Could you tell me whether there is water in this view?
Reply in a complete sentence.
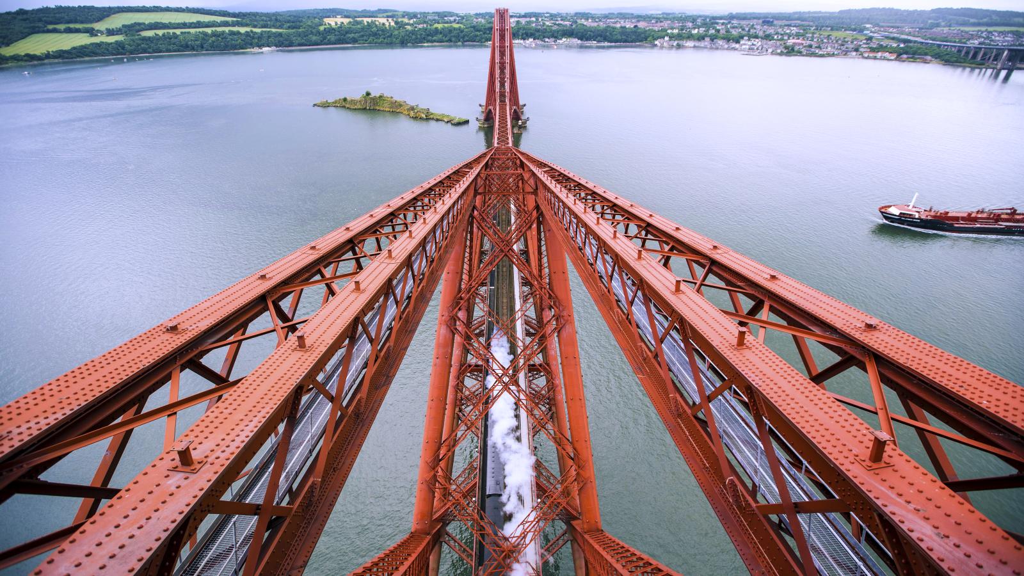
Yes, water can be seen from above here.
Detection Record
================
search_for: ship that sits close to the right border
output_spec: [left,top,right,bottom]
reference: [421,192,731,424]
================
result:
[882,192,1024,240]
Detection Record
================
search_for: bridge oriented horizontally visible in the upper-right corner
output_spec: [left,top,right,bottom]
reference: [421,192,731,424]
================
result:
[884,37,1024,71]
